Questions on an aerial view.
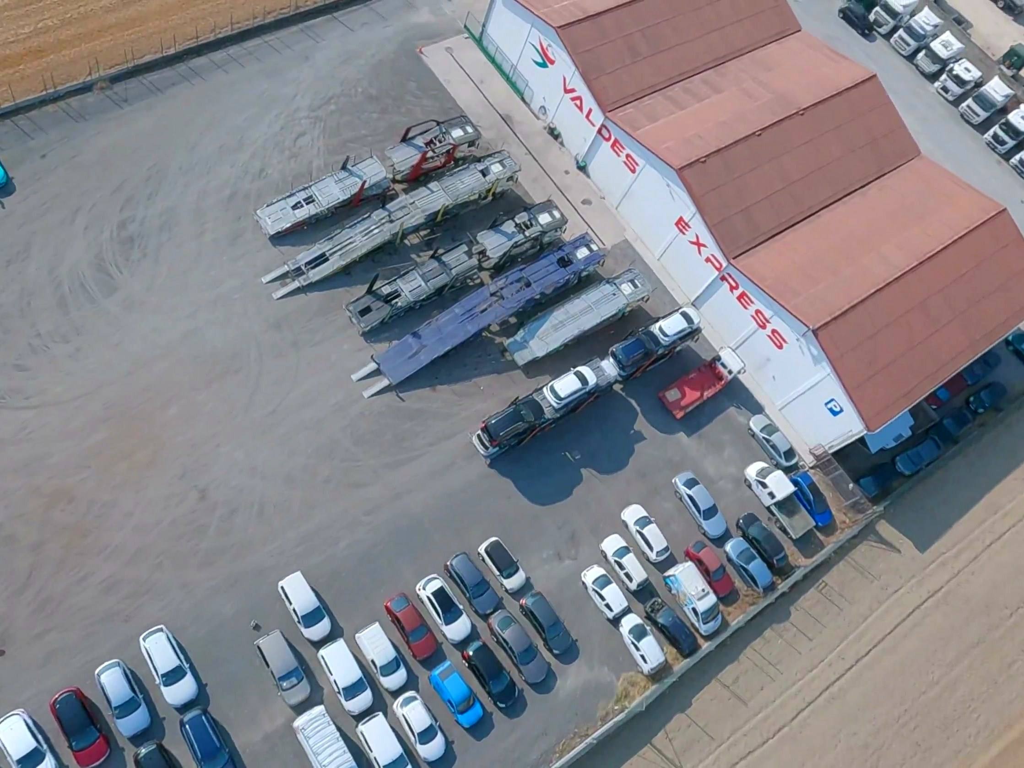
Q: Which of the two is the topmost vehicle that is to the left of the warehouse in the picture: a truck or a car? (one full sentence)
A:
Specifically, the topmost vehicle that is to the left of the warehouse is a truck.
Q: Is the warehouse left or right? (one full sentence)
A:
The warehouse appears in the right half of the scene.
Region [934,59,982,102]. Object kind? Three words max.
truck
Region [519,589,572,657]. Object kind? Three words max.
car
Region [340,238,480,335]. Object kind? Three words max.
trailer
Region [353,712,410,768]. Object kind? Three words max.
van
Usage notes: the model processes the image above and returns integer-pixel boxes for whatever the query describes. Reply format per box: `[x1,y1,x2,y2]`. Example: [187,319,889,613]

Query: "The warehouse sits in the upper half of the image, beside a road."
[477,0,1024,462]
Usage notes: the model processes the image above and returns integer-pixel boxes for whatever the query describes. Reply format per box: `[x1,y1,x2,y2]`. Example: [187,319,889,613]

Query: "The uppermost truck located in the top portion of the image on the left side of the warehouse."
[378,113,484,187]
